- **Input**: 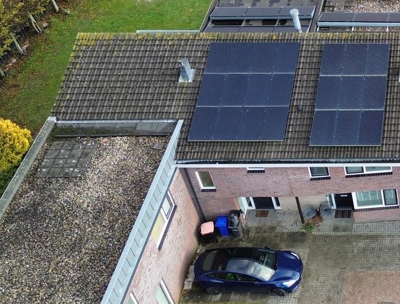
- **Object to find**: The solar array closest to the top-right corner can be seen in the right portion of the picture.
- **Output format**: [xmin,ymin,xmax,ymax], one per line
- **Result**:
[308,41,391,145]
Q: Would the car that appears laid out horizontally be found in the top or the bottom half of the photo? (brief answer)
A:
bottom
